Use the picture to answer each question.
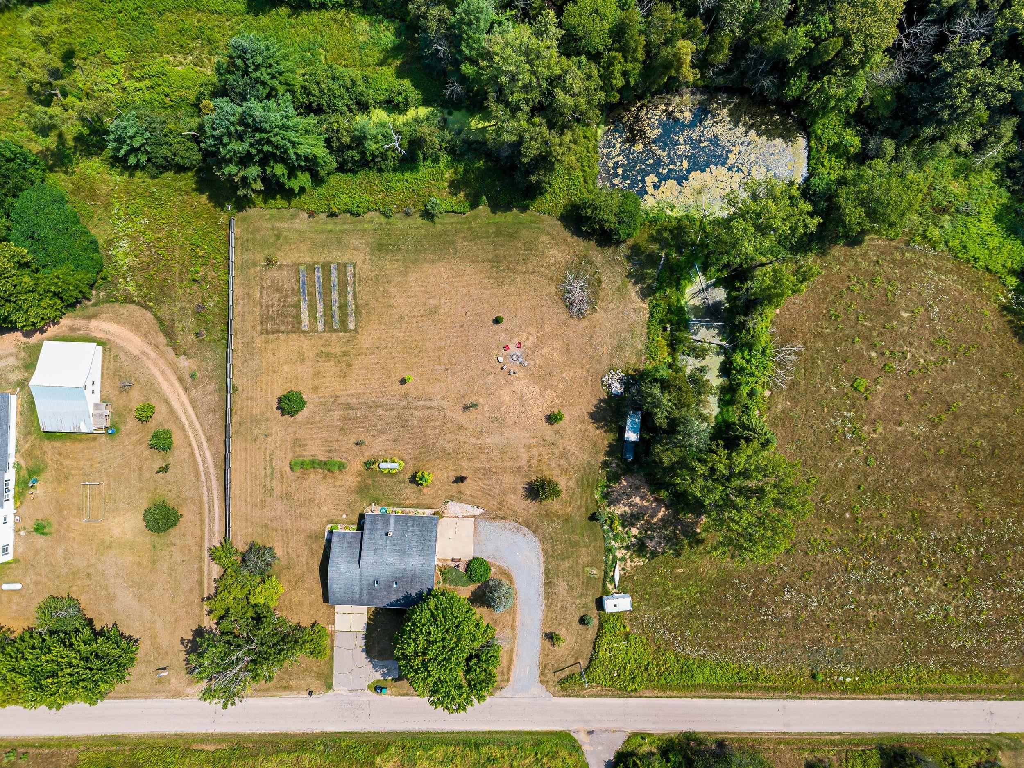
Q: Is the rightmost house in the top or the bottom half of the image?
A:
bottom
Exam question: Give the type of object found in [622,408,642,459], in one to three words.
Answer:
vehicle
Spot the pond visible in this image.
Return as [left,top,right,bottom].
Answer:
[597,93,808,216]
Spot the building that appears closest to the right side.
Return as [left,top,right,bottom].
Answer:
[328,504,439,610]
